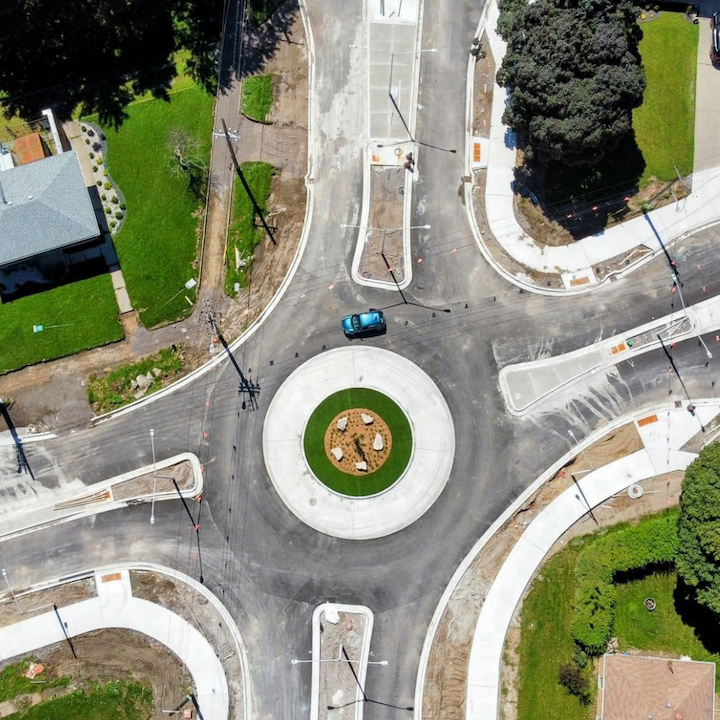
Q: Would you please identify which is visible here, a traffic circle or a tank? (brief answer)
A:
traffic circle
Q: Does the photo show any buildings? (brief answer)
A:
Yes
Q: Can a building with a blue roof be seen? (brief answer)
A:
No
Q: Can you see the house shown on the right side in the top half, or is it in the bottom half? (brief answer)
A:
bottom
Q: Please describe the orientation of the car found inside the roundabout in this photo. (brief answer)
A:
from side to side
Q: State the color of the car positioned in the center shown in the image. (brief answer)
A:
blue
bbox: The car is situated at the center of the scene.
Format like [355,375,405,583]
[343,315,386,335]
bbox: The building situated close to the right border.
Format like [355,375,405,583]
[598,652,716,720]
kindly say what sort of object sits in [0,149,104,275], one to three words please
house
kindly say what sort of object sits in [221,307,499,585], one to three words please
roundabout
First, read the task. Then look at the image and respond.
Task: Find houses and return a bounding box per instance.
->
[0,149,104,275]
[598,652,716,720]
